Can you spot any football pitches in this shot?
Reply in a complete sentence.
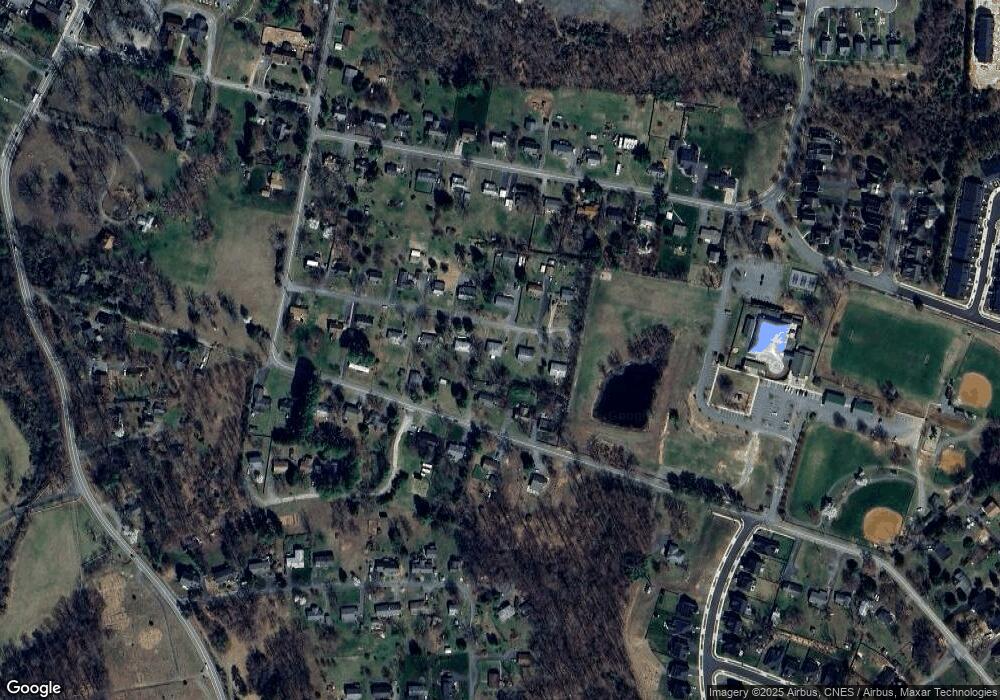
Yes, a football pitch can be made out from above.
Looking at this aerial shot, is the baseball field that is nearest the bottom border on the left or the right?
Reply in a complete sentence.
The baseball field that is nearest the bottom border sits on the right side.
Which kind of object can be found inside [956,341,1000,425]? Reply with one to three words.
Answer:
baseball field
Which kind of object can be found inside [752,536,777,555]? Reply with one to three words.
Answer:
house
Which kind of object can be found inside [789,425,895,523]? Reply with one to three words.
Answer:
sports field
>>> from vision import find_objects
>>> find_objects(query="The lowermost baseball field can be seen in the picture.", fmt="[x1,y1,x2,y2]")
[834,480,913,550]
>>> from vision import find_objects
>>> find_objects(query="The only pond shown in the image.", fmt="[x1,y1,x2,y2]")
[594,365,662,429]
